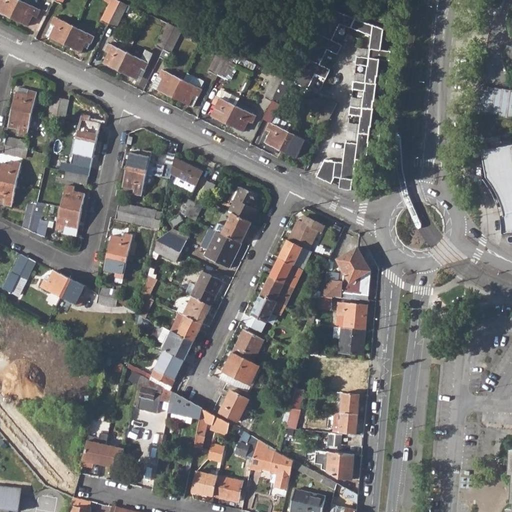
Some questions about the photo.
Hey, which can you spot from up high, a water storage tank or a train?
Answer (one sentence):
There is a train in the scene.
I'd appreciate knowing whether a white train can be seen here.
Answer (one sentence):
Yes, there is a white train in the image.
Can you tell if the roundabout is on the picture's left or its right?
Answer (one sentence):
You can find the roundabout on the right side of the picture.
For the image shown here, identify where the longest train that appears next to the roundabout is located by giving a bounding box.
[396,134,421,228]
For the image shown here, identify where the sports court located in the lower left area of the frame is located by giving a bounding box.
[22,489,62,512]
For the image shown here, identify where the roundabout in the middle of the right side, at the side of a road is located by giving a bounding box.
[396,200,444,252]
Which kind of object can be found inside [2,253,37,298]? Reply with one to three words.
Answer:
house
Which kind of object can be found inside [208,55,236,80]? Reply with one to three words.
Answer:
shed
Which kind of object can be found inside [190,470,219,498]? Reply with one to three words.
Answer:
house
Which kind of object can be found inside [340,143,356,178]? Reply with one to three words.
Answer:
building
